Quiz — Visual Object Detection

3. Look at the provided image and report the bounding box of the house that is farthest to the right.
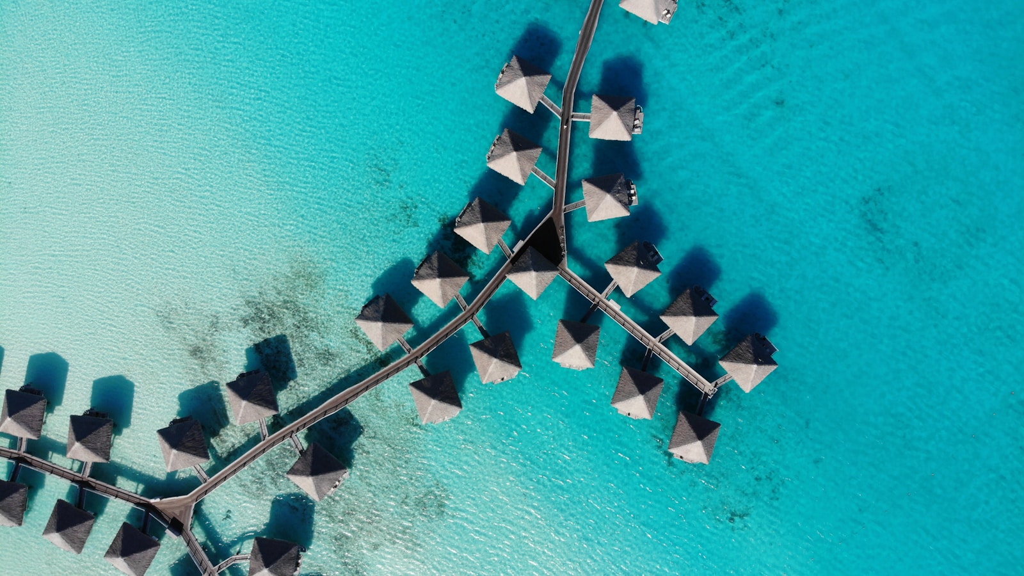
[718,332,778,393]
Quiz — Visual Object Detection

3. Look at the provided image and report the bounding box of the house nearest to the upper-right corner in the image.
[619,0,680,34]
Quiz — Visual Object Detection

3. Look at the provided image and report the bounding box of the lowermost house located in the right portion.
[668,411,721,464]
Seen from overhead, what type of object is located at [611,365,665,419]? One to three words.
house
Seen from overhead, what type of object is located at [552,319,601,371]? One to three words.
house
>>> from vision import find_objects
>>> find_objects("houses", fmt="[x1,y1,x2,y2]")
[552,319,601,371]
[582,173,639,222]
[41,499,99,553]
[287,442,349,502]
[668,411,721,464]
[248,537,307,576]
[410,370,462,425]
[355,293,413,351]
[411,251,469,308]
[660,286,719,346]
[469,331,522,387]
[495,55,553,113]
[0,385,54,439]
[619,0,680,34]
[486,128,543,184]
[611,365,665,419]
[589,94,644,142]
[718,332,778,393]
[157,411,210,472]
[454,197,512,254]
[605,241,664,297]
[66,406,117,462]
[0,479,35,525]
[226,365,279,425]
[104,523,162,576]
